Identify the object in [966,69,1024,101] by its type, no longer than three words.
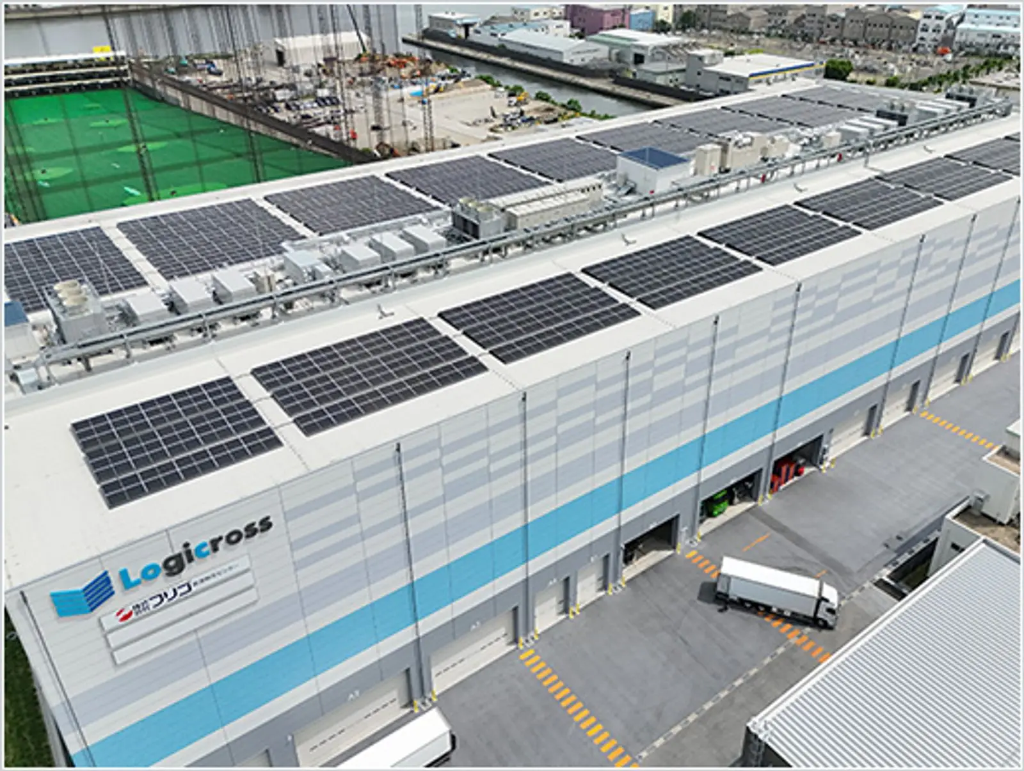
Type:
building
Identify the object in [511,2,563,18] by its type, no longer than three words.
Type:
building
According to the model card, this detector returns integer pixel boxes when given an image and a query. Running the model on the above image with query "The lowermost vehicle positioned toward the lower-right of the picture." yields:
[715,557,841,632]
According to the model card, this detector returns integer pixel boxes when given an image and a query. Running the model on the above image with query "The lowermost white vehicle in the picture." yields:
[332,705,463,771]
